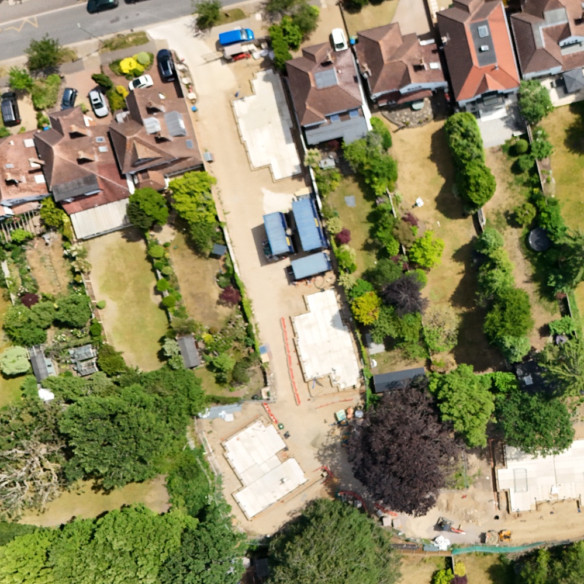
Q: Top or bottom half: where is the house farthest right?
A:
top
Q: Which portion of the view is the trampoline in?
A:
right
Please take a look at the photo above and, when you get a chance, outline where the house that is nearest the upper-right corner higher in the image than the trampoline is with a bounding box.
[510,0,584,80]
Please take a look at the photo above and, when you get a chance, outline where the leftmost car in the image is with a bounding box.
[3,93,23,127]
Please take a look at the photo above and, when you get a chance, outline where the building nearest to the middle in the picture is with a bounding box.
[290,252,333,281]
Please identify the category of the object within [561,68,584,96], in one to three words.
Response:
gazebo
